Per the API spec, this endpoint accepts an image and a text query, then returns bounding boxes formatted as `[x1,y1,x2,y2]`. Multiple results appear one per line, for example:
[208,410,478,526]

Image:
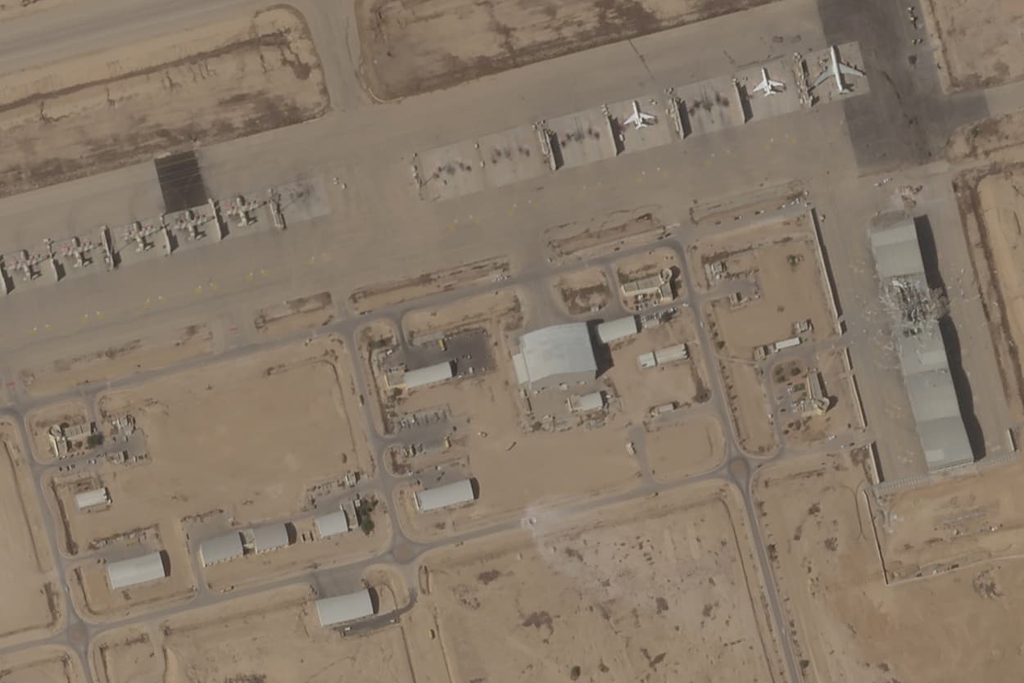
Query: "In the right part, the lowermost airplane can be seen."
[624,102,654,127]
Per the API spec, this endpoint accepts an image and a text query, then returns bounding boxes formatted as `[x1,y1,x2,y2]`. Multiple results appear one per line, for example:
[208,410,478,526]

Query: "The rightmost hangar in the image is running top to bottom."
[869,218,974,478]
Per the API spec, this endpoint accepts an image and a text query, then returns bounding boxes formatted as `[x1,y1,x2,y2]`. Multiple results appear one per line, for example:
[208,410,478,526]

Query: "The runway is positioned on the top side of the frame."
[0,0,294,75]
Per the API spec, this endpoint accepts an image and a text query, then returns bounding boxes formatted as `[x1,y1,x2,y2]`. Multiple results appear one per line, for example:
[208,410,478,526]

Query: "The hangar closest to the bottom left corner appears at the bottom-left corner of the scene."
[108,552,165,591]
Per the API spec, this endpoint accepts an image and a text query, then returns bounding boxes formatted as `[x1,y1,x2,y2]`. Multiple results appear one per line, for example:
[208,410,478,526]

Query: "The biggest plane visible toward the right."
[815,48,864,90]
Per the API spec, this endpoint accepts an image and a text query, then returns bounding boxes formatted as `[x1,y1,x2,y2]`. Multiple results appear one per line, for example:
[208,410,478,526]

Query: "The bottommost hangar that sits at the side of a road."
[316,589,374,627]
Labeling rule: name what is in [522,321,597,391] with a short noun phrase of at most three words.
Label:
hangar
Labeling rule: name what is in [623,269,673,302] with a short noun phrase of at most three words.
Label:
building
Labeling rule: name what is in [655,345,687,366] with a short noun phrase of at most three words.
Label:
shed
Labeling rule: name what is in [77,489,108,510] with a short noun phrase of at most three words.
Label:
shed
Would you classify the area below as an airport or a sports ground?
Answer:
airport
